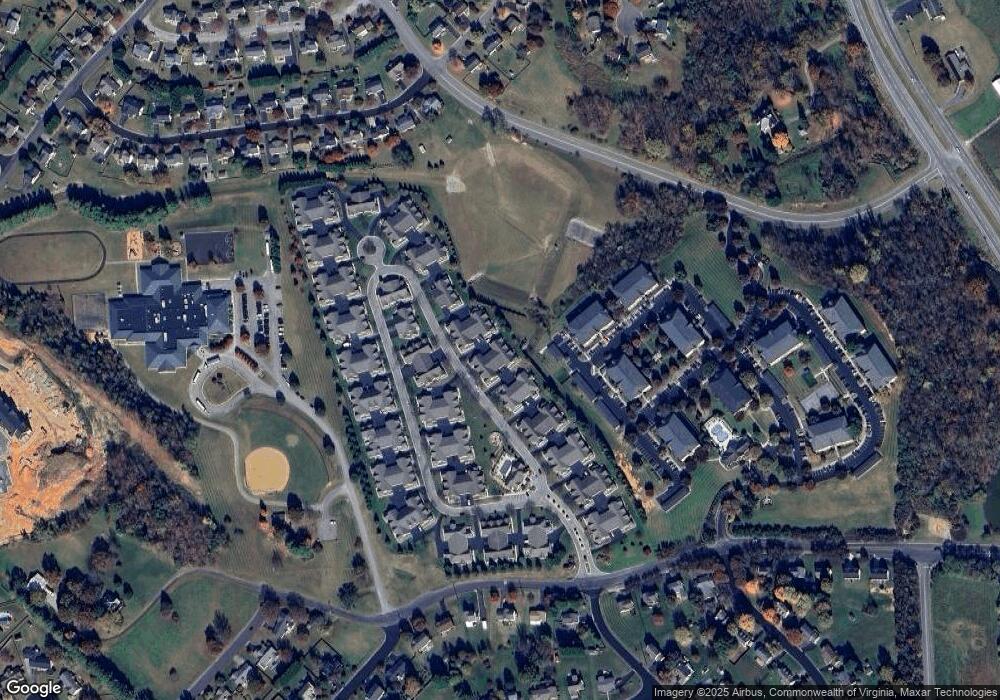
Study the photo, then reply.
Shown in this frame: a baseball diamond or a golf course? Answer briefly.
baseball diamond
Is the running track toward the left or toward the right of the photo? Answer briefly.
left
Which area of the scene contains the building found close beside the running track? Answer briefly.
left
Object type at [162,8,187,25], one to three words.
house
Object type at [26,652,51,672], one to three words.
house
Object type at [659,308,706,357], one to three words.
building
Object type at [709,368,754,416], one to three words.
building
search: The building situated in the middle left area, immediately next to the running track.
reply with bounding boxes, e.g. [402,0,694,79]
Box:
[107,259,231,376]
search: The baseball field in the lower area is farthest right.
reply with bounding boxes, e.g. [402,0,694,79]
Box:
[245,448,290,495]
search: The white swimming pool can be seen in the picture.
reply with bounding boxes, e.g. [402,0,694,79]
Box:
[703,416,736,449]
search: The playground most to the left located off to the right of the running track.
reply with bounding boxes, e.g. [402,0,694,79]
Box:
[128,231,143,259]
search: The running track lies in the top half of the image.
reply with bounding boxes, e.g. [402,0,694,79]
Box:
[0,231,104,286]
